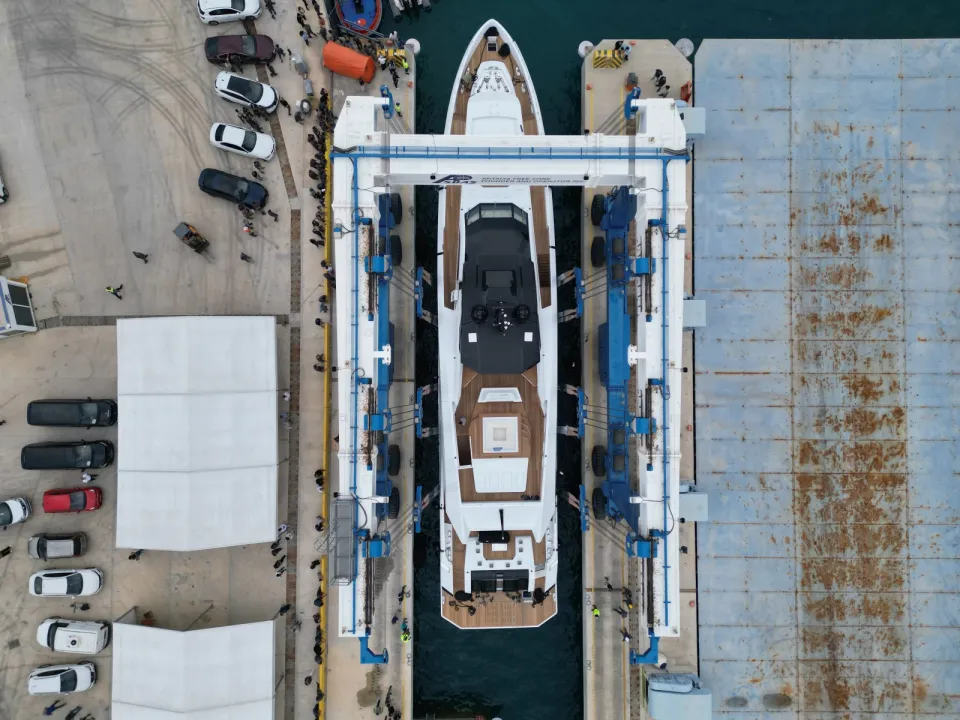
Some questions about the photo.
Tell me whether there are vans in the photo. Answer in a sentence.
Yes, the photo shows a van.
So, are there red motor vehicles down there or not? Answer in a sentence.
Yes, there's a red motor vehicle down there.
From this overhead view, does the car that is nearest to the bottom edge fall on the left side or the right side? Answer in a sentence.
The car that is nearest to the bottom edge appears in the left half of the scene.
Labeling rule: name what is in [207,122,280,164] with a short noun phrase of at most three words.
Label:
car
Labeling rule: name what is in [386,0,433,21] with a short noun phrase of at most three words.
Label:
boat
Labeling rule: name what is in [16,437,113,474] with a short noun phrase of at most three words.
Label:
van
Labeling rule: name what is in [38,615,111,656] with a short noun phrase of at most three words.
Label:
van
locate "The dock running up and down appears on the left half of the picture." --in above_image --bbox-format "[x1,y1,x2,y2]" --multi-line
[322,38,417,720]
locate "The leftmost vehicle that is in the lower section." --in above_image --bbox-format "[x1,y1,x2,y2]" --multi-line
[0,495,37,532]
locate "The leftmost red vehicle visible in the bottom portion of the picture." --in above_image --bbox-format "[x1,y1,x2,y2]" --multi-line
[37,484,108,517]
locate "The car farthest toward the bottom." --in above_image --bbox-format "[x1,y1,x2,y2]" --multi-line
[27,658,102,698]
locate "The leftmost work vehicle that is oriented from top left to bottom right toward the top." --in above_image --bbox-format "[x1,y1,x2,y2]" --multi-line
[160,214,222,262]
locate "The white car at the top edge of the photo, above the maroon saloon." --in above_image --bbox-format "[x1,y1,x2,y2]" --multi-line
[196,0,265,31]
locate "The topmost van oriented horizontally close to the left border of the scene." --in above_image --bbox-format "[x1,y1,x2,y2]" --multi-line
[21,395,114,431]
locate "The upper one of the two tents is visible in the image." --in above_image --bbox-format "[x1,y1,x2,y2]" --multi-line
[112,316,289,555]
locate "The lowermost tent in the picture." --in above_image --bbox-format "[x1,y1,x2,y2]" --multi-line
[109,607,285,720]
